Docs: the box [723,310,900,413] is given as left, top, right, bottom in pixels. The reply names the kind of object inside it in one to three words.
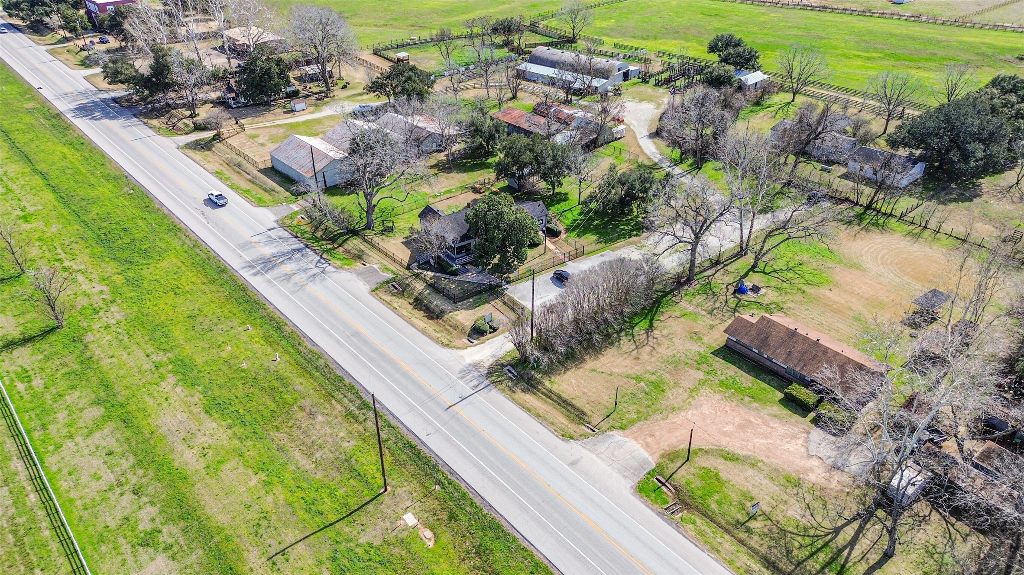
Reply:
house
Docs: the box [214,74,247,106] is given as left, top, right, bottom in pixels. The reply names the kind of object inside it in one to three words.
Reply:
house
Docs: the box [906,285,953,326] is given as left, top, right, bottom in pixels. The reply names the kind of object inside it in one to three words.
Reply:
building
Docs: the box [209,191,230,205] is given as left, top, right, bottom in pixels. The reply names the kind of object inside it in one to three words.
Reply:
vehicle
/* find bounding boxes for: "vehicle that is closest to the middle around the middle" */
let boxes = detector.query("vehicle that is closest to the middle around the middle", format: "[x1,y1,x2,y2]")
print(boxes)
[552,268,572,285]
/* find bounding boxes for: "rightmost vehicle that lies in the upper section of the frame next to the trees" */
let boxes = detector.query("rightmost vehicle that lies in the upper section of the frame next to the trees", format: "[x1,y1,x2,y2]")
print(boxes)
[808,189,826,204]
